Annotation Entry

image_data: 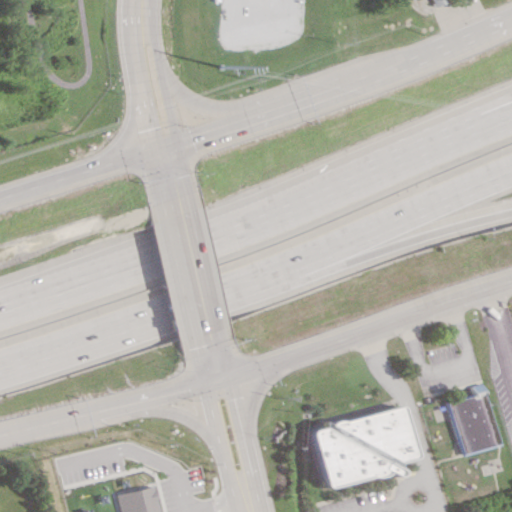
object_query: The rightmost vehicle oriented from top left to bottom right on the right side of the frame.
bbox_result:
[487,308,503,322]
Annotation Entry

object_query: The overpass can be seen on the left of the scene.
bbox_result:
[146,176,236,361]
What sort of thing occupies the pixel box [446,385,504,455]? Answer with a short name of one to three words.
building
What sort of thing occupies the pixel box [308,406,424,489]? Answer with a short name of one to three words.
building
